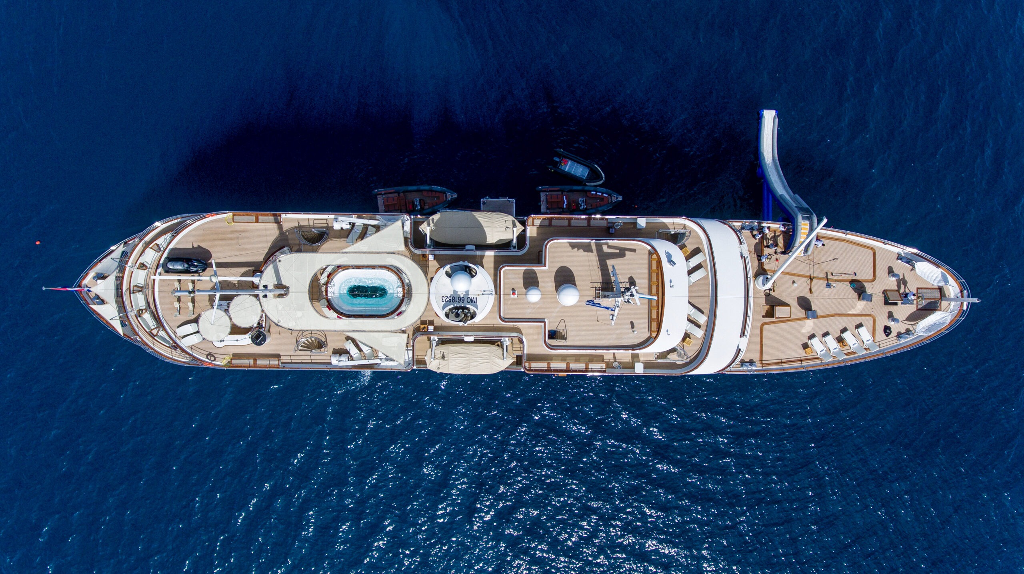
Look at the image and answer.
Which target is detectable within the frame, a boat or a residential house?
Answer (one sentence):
Of the two, only a boat appears.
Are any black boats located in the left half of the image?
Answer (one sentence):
Yes, a black boat can be seen in the left half of the image.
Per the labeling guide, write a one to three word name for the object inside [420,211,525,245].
boat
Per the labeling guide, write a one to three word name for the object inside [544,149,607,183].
boat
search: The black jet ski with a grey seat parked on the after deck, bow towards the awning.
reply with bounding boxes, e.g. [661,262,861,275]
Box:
[165,257,211,273]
